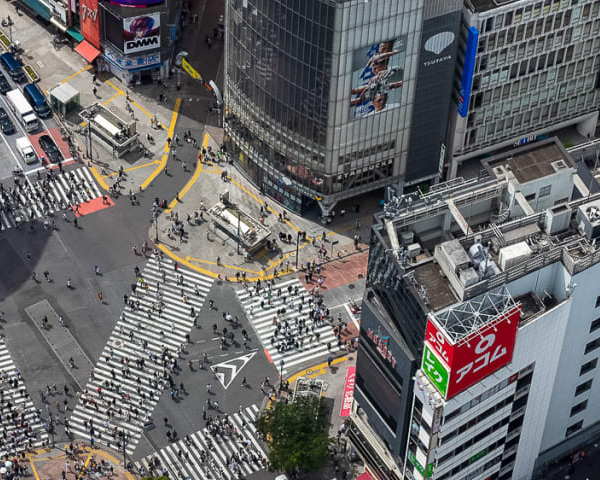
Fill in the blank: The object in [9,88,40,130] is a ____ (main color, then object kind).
white truck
